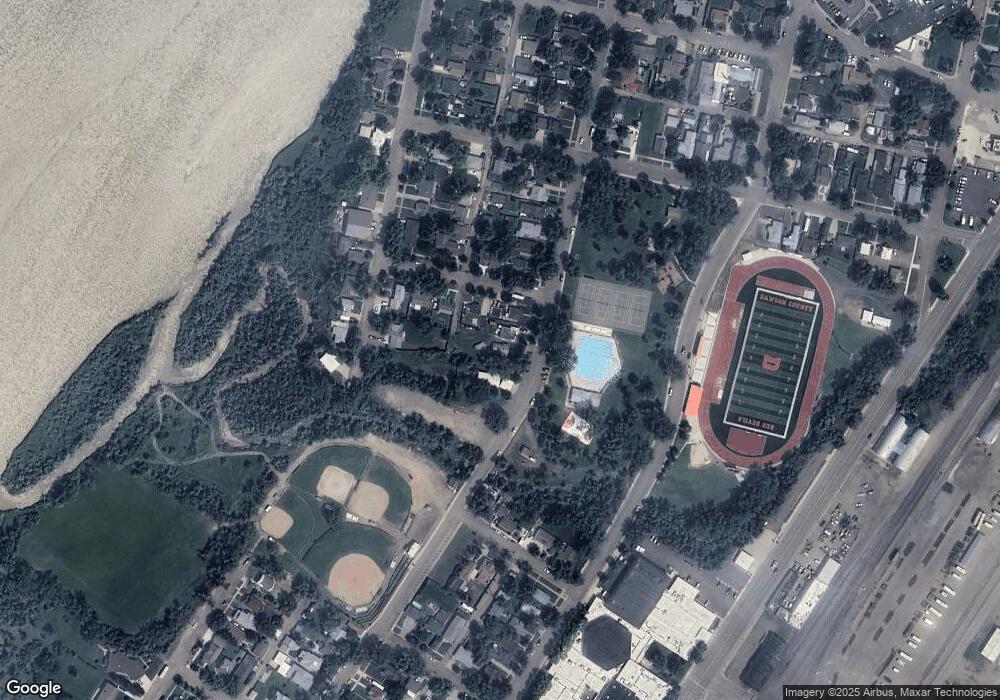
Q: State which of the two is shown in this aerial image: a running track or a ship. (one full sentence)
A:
It is a running track that can be seen here.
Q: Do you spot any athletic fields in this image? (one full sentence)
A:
Yes, there is an athletic field in the image.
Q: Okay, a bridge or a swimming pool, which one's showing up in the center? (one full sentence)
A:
There is a swimming pool in the center.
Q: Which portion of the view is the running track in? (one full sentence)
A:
The running track is located in the right region of the scene.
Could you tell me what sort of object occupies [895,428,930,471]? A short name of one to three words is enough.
building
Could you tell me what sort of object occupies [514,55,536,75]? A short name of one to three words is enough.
house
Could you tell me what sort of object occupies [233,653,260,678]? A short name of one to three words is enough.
house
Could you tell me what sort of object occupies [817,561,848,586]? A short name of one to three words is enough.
building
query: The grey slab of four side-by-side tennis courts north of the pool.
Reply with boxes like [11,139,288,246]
[571,276,652,334]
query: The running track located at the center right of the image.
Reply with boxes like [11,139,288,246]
[699,256,836,468]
